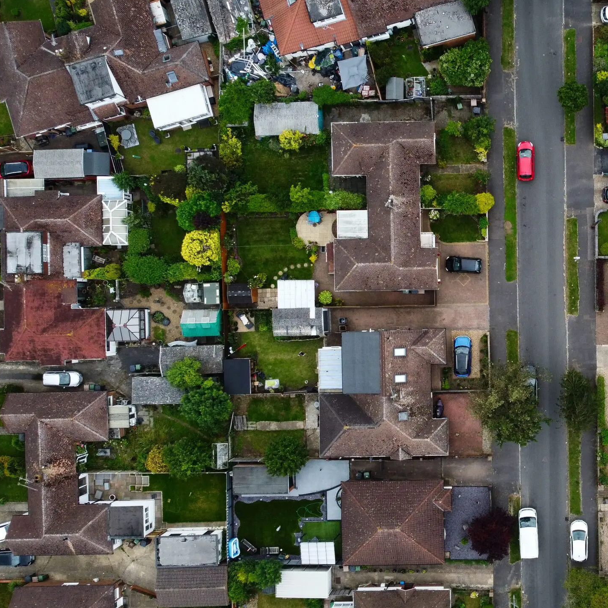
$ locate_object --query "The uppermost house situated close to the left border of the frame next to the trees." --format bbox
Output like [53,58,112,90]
[0,0,221,139]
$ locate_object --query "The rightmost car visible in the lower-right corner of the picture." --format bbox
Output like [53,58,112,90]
[569,519,590,561]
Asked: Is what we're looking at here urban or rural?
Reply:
urban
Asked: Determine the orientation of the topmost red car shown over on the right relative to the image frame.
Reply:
up and down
